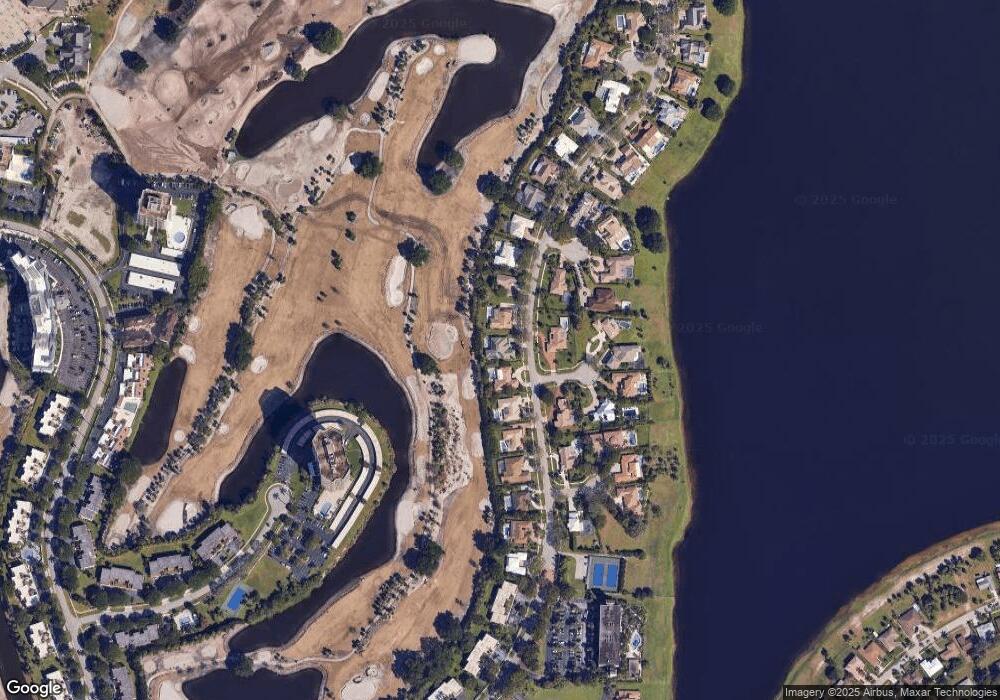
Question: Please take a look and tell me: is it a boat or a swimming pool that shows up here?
swimming pool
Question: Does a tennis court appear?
Yes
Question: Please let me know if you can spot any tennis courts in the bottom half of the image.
Yes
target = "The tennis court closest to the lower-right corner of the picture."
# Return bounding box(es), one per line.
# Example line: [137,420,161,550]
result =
[587,556,622,592]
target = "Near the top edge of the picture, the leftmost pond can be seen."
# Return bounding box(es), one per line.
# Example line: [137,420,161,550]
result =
[234,0,556,194]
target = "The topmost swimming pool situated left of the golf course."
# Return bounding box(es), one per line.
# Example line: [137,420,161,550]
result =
[20,163,32,181]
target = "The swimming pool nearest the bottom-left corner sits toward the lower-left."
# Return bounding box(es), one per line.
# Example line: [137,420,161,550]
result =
[20,550,40,565]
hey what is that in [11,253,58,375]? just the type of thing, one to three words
building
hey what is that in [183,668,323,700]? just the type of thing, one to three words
pond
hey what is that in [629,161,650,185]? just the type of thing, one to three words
swimming pool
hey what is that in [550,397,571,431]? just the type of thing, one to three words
house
